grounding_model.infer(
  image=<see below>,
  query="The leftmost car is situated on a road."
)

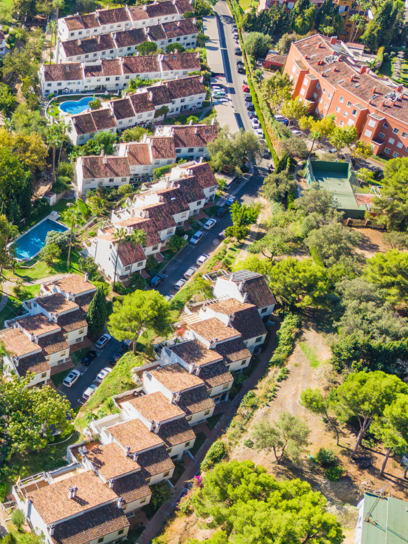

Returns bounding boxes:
[63,369,81,386]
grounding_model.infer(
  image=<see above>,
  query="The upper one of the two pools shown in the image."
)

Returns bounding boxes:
[58,95,102,115]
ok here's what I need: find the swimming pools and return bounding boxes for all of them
[58,95,102,115]
[11,216,71,260]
